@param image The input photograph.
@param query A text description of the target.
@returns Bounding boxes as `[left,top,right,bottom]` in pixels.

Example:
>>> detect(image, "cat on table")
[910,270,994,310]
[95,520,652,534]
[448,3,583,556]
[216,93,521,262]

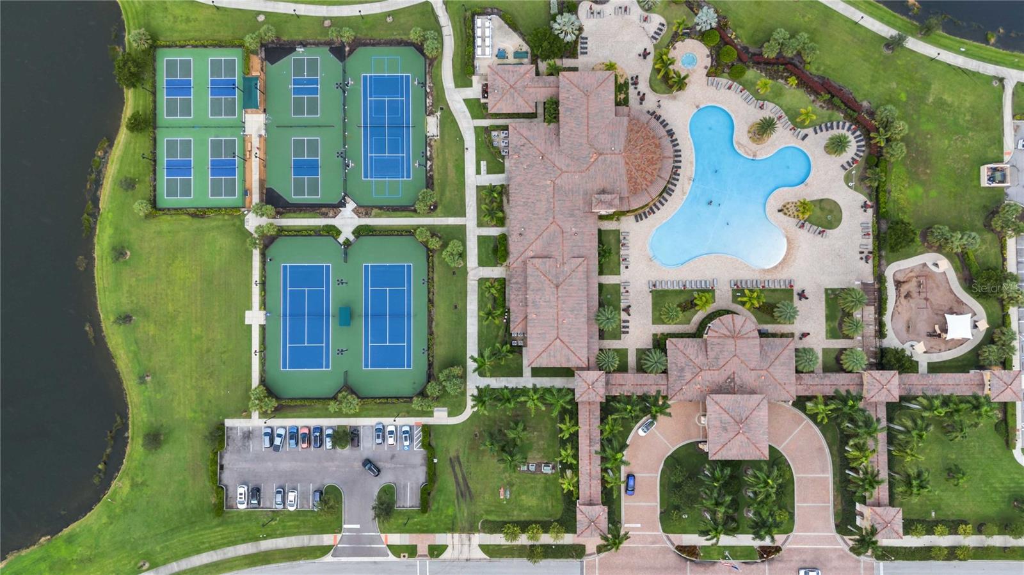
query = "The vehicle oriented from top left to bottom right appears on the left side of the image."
[362,458,381,479]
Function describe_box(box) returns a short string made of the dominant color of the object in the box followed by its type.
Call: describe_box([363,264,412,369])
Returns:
blue tennis court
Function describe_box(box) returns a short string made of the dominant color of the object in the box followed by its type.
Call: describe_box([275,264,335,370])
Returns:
blue tennis court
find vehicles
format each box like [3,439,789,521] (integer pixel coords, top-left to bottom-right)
[350,428,360,449]
[312,426,322,448]
[638,417,656,437]
[386,425,396,446]
[362,458,381,479]
[263,427,273,449]
[288,426,299,448]
[274,427,287,452]
[799,569,822,575]
[249,486,260,507]
[287,489,298,511]
[313,490,323,510]
[1014,138,1024,149]
[301,427,311,448]
[274,487,285,508]
[237,486,248,508]
[324,428,335,450]
[374,423,384,445]
[626,474,636,495]
[401,425,411,447]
